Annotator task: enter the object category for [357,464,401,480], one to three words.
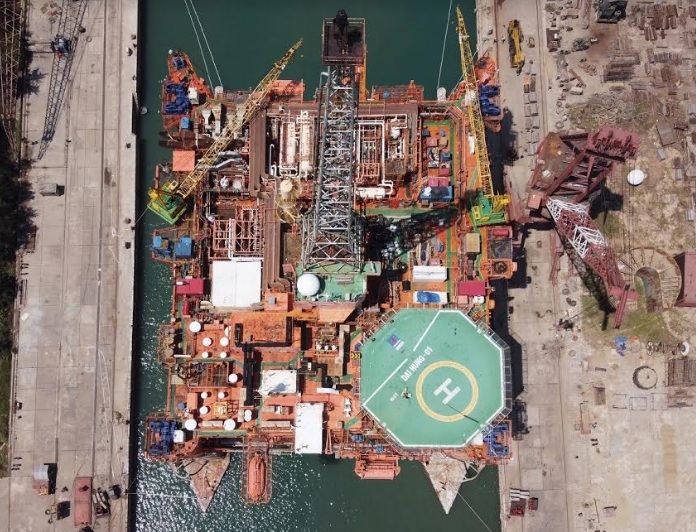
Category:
boat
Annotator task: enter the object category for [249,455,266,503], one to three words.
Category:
boat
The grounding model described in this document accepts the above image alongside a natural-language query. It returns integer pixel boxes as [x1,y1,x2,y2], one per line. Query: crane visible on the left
[143,37,306,229]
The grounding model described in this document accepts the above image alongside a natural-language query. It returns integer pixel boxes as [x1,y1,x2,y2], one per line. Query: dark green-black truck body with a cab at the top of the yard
[597,1,625,24]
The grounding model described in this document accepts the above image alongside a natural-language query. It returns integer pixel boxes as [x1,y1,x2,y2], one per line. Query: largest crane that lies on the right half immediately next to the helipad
[453,5,515,231]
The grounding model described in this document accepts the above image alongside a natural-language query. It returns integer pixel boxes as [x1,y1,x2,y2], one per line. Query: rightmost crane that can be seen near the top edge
[504,16,525,74]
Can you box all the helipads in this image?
[350,304,513,454]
